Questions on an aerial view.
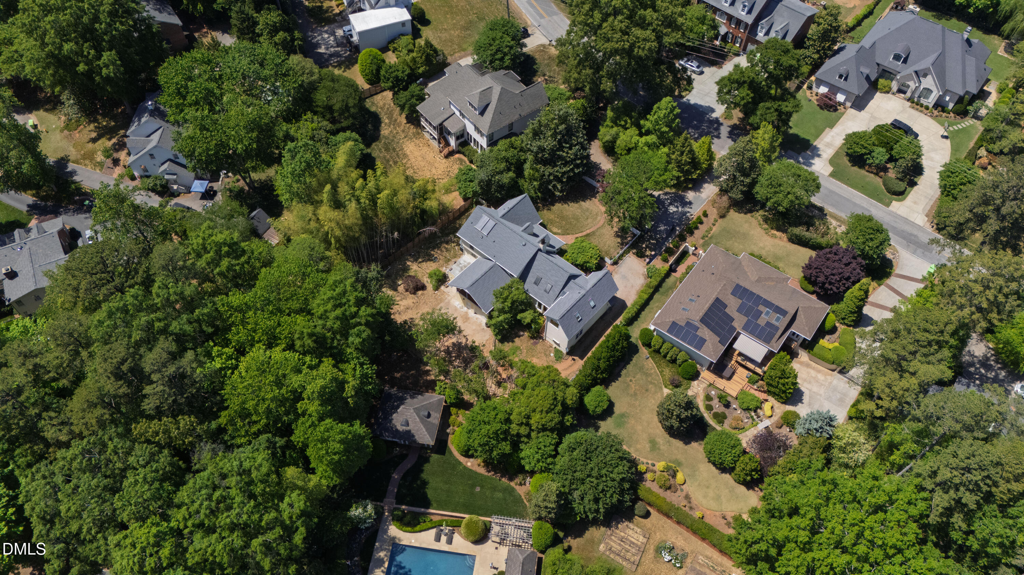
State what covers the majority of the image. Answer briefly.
trees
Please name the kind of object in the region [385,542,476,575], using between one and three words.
swimming pool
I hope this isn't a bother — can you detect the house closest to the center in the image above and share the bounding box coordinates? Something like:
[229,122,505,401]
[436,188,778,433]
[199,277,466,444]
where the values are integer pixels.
[446,194,619,352]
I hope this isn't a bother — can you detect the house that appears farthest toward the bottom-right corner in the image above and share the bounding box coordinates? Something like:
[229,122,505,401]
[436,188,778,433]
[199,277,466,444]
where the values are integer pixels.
[649,243,831,370]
